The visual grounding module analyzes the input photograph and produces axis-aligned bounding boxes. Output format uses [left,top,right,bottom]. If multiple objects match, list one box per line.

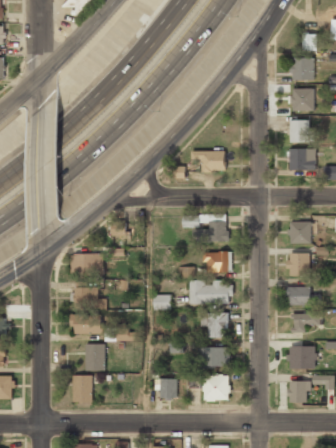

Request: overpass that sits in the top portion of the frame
[18,70,66,256]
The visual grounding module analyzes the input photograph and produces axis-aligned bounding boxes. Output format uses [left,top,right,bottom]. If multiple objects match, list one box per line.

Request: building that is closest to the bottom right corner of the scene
[290,376,335,404]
